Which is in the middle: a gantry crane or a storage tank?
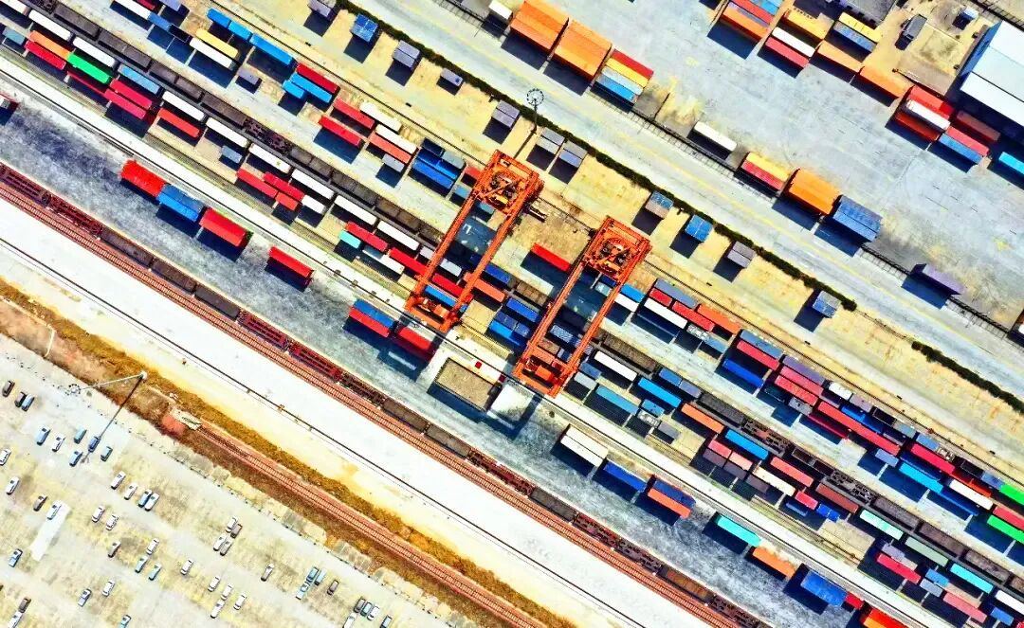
gantry crane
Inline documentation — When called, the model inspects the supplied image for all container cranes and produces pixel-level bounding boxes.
[403,151,538,341]
[505,217,649,402]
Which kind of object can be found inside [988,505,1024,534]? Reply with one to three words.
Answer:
shipping container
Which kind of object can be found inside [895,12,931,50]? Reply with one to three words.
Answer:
truck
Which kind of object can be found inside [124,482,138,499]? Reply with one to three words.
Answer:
car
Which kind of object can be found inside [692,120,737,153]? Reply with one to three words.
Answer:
shipping container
